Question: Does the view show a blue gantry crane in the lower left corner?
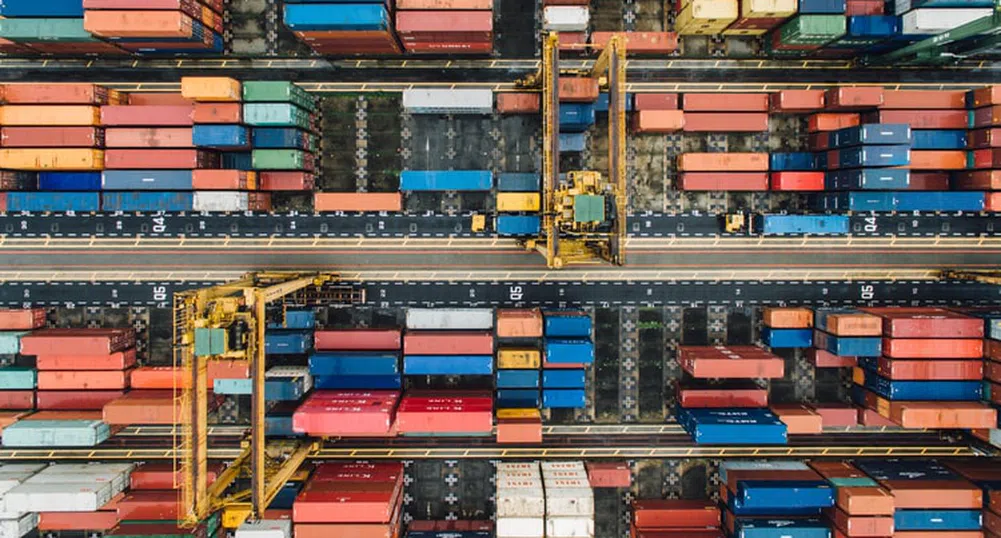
No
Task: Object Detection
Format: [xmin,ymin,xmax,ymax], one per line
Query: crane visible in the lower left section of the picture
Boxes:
[173,274,346,523]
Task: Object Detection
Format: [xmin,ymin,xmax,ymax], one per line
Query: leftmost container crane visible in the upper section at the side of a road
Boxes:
[518,28,630,269]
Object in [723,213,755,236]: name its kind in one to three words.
truck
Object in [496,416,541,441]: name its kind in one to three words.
shipping container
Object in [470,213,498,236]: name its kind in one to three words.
truck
